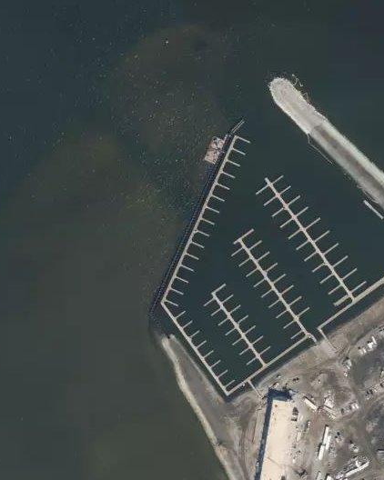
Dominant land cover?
water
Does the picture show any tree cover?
No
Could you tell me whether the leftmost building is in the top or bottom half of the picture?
bottom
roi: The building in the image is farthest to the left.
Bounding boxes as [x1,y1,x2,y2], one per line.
[260,400,291,480]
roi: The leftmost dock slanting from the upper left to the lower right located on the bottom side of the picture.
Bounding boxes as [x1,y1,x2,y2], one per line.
[161,303,235,396]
